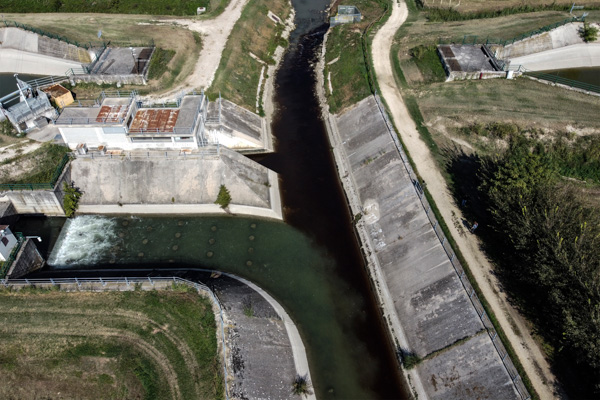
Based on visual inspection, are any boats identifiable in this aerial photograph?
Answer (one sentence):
No, I can see no boat in this picture.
